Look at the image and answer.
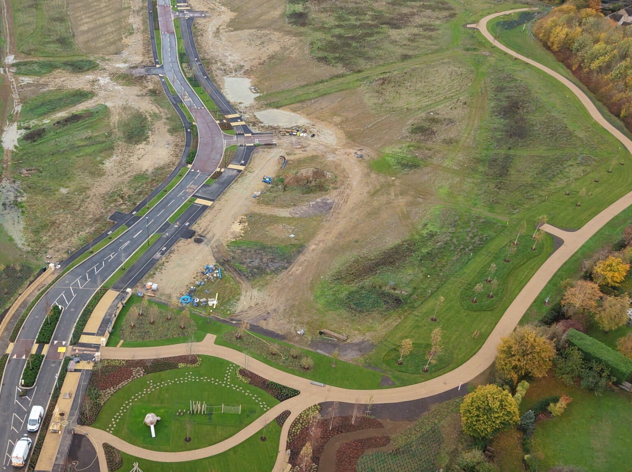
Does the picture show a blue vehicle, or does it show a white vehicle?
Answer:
white vehicle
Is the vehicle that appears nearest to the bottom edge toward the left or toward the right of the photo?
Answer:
left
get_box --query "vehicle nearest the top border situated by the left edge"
[28,404,45,430]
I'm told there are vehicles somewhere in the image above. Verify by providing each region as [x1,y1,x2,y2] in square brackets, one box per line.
[15,435,38,465]
[28,404,45,430]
